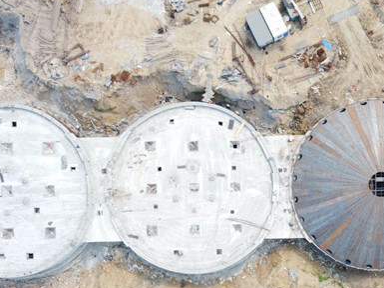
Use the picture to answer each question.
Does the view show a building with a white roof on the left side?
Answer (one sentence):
No, I see no building with a white roof on the left side.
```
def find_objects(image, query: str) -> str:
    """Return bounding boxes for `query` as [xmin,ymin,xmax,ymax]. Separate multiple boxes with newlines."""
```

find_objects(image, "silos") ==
[0,105,93,278]
[290,98,384,272]
[104,101,276,274]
